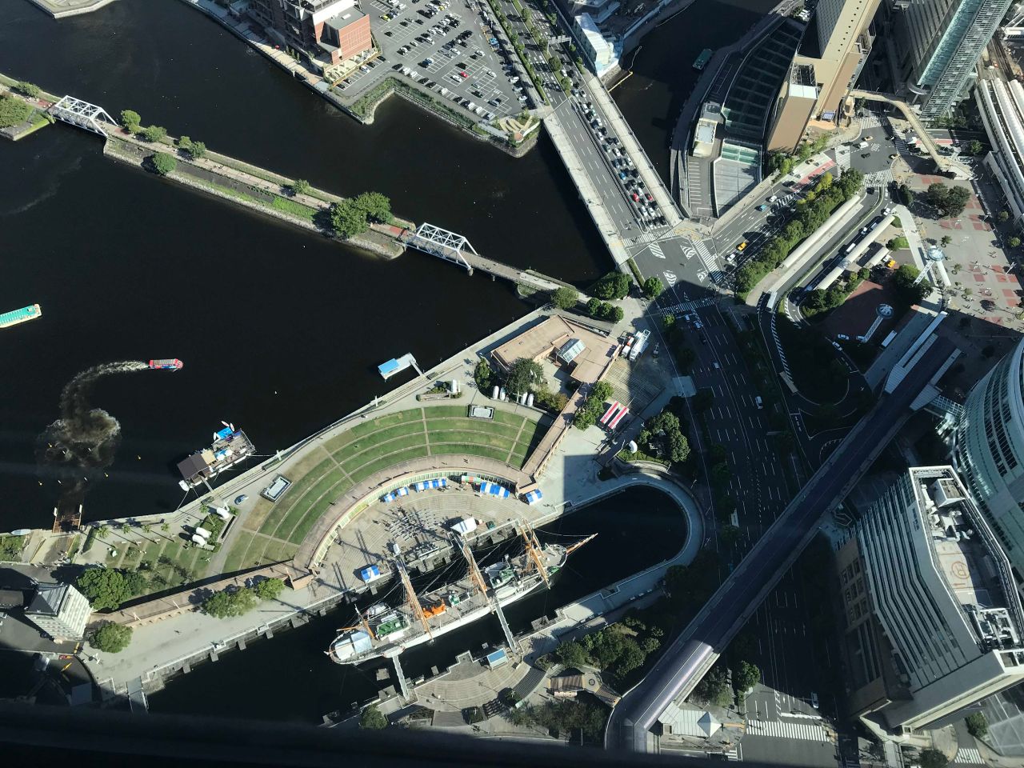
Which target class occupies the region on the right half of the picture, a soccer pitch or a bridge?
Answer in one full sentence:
Visible on the right half of the picture is a bridge.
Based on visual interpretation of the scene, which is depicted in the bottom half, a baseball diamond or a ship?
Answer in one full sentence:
You can see a ship in the bottom half.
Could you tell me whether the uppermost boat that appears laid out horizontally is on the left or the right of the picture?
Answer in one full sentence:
It is on the left.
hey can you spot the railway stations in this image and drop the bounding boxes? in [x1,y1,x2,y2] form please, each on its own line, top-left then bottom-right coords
[974,48,1024,232]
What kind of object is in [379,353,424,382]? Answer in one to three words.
pier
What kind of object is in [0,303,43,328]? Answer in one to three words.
boat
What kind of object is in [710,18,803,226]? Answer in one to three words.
building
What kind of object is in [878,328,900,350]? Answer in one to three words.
bus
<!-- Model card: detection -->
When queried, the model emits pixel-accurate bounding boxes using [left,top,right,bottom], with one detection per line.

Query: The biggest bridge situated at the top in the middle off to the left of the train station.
[542,76,686,272]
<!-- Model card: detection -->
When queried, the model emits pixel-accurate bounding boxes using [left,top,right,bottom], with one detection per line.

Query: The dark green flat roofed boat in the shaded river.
[691,47,712,71]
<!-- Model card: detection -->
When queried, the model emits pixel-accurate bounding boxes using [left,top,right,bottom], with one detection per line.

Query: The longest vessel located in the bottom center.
[321,510,600,669]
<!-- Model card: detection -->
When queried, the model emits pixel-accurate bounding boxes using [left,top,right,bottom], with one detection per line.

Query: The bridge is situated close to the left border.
[49,92,117,138]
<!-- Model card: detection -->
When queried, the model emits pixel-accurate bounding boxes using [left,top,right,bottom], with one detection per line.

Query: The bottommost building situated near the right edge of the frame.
[813,466,1024,728]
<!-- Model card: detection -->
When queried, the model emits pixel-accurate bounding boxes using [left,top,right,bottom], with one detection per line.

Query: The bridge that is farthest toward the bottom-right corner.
[929,397,961,440]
